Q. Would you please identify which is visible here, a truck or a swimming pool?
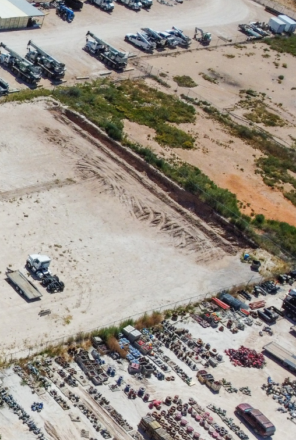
truck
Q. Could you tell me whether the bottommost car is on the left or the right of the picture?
right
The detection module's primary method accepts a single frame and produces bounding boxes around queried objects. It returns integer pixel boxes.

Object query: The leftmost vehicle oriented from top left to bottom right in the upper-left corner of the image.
[0,43,47,86]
